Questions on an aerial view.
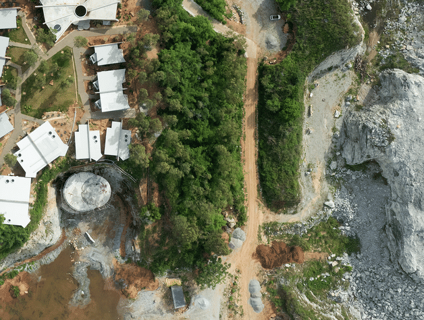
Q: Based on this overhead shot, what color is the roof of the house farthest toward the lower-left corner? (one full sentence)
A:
The roof over the house farthest toward the lower-left corner appears white.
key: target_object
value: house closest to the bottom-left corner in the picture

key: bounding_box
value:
[0,174,34,228]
